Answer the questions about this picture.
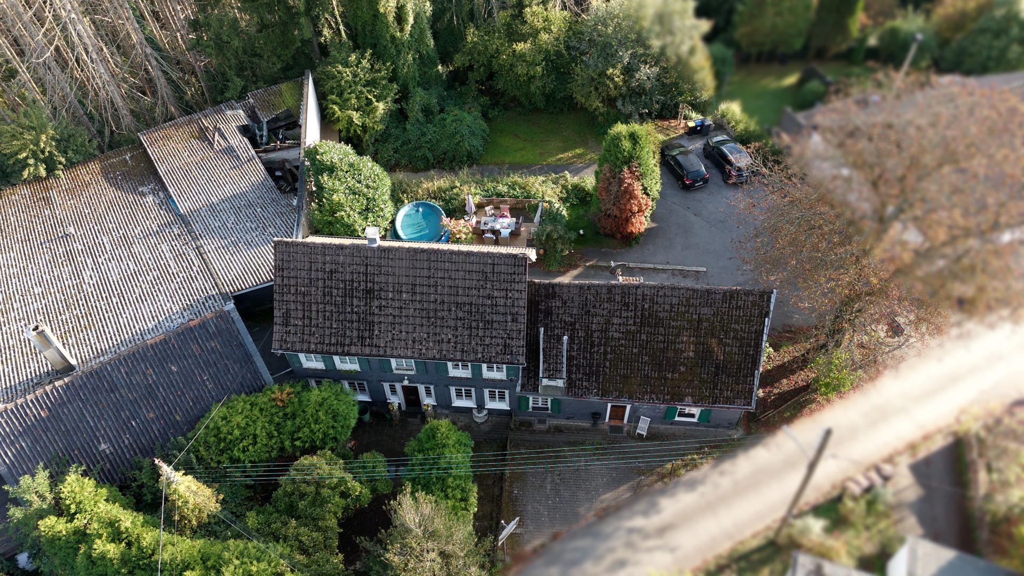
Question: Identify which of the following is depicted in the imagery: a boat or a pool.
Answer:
pool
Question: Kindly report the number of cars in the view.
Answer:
2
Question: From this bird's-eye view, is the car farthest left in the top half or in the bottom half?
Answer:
top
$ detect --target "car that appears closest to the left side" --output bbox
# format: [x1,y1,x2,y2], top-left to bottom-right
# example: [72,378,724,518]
[664,143,708,185]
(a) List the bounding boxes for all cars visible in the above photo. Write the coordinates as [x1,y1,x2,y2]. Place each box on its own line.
[705,135,751,176]
[664,143,708,185]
